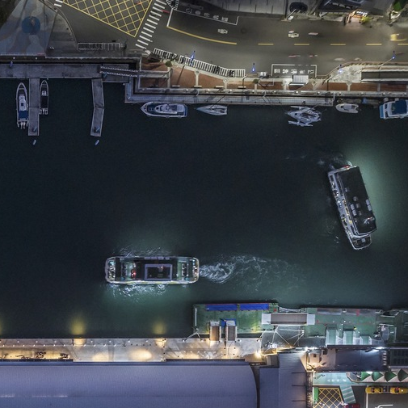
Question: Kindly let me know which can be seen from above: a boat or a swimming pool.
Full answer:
Looking from above, you can make out a boat.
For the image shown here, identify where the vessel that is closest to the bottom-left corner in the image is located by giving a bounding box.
[103,256,197,285]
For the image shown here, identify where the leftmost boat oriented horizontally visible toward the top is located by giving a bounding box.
[141,101,187,118]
